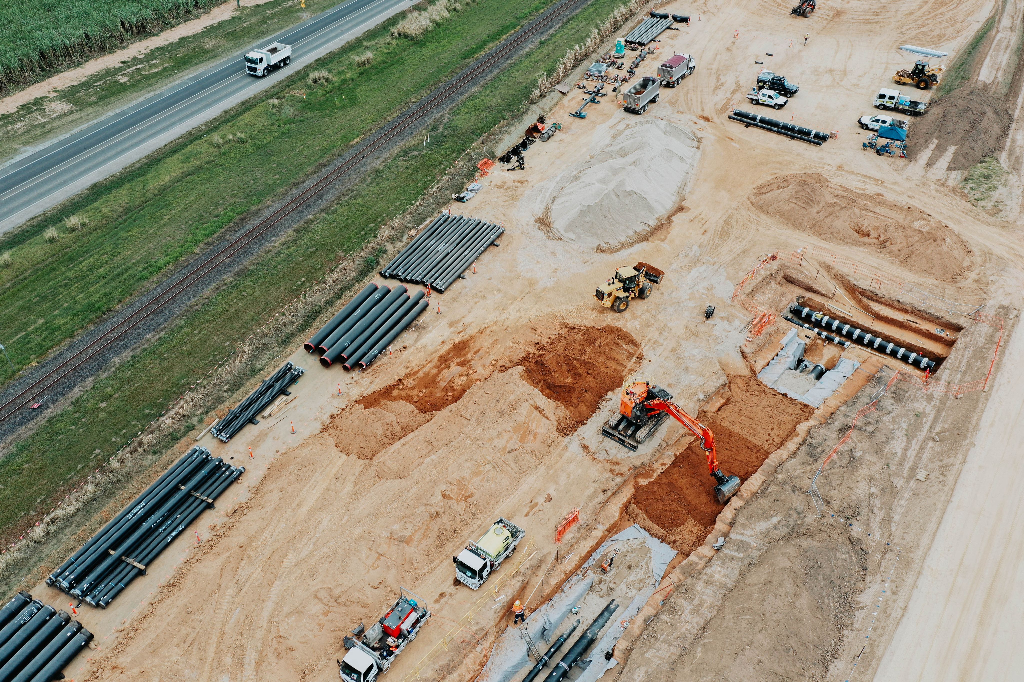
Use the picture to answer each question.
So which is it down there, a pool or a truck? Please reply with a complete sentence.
I can see a truck in this picture.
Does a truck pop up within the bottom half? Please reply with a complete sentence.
Yes, the scene does show a truck within the bottom half.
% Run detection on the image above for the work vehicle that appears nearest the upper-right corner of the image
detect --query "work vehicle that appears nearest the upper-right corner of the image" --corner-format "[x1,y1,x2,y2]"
[893,61,942,90]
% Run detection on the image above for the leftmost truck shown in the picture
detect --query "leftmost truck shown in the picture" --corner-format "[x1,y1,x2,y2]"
[239,42,291,75]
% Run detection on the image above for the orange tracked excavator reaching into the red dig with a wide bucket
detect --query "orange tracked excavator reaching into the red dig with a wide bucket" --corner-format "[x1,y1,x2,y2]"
[594,363,736,504]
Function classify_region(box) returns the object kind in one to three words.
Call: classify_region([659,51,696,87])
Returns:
truck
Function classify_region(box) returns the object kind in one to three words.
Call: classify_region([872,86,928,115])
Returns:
truck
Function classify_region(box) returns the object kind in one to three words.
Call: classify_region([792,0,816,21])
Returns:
work vehicle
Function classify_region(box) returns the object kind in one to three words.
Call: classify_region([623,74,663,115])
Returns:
trailer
